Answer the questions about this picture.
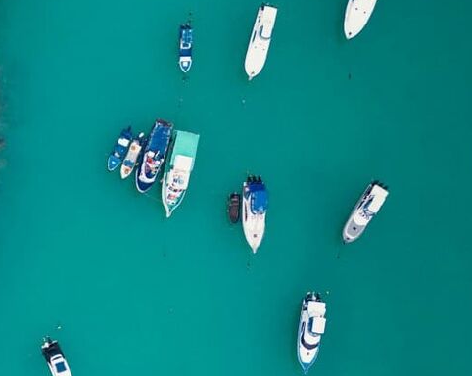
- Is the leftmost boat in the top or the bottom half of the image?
bottom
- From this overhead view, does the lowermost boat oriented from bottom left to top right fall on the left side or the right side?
right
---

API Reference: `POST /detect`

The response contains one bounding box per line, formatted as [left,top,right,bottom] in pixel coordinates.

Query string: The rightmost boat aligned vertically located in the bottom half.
[298,295,327,376]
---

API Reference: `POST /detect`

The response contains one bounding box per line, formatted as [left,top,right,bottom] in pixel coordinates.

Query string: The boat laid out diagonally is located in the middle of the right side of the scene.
[342,180,393,244]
